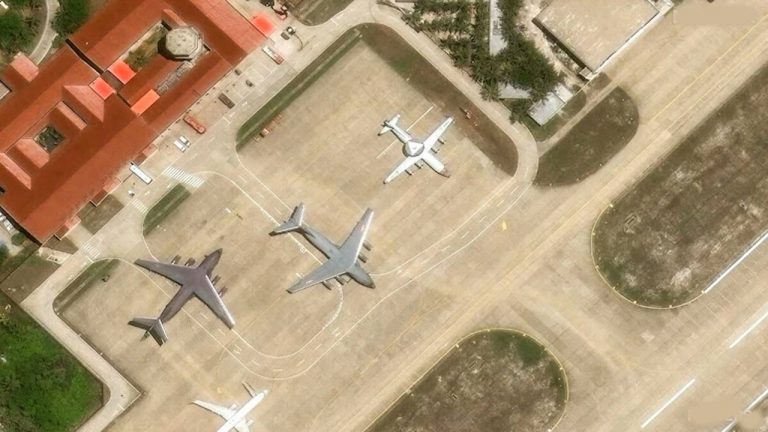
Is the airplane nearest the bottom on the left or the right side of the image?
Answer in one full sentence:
The airplane nearest the bottom is on the left side of the image.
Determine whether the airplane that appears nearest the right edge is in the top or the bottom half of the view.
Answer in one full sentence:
It is in the top half that the airplane that appears nearest the right edge appears.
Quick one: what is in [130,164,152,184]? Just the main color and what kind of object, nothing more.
white bus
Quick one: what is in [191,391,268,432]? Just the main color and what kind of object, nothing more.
white airplane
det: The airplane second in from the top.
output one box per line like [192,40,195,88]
[271,202,375,296]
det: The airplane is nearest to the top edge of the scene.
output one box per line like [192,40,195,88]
[374,116,454,184]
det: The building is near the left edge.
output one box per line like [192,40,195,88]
[0,0,272,244]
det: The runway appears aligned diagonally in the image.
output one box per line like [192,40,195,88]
[552,230,768,432]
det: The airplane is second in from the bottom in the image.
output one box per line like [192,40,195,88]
[124,250,232,347]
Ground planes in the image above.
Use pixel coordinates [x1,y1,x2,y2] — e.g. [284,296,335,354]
[124,250,232,347]
[271,202,375,296]
[191,391,268,432]
[374,116,454,184]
